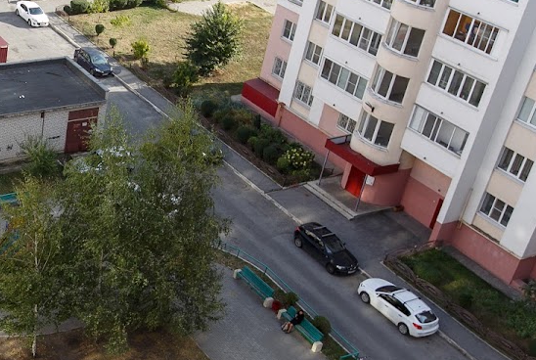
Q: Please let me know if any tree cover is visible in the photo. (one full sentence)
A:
Yes, there is tree cover in the image.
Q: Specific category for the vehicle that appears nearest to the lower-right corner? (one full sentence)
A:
I'd identify the vehicle that appears nearest to the lower-right corner as an automobile.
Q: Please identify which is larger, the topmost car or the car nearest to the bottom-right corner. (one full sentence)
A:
Of the two, the car nearest to the bottom-right corner is bigger, while the topmost car is smaller.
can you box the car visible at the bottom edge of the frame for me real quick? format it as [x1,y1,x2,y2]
[356,282,443,344]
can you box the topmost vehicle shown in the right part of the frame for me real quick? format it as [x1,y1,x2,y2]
[290,220,362,281]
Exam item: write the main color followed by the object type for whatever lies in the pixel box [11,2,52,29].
white car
